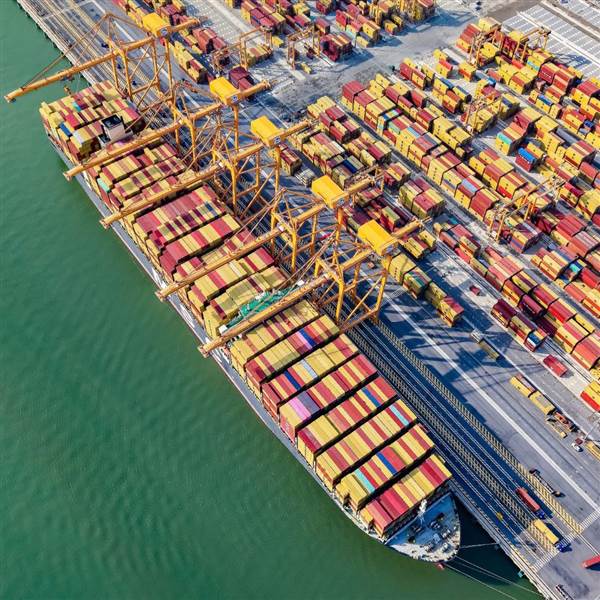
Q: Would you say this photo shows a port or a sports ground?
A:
port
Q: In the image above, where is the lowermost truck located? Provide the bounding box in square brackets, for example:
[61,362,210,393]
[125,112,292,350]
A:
[547,578,570,600]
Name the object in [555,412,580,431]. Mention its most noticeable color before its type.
red work vehicle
